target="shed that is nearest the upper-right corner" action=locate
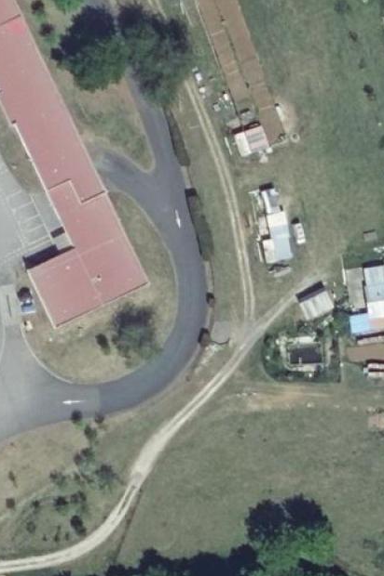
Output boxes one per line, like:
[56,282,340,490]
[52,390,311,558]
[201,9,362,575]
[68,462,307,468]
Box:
[234,127,270,157]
